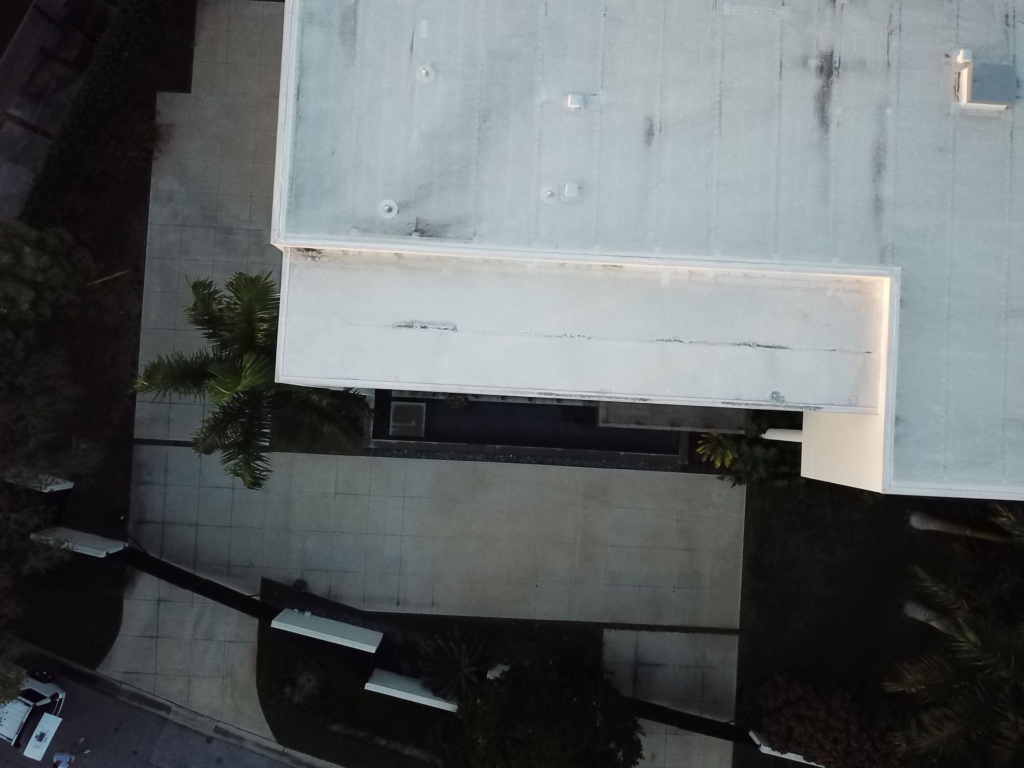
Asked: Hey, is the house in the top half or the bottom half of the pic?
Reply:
top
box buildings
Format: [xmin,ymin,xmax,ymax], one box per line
[271,0,1024,500]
